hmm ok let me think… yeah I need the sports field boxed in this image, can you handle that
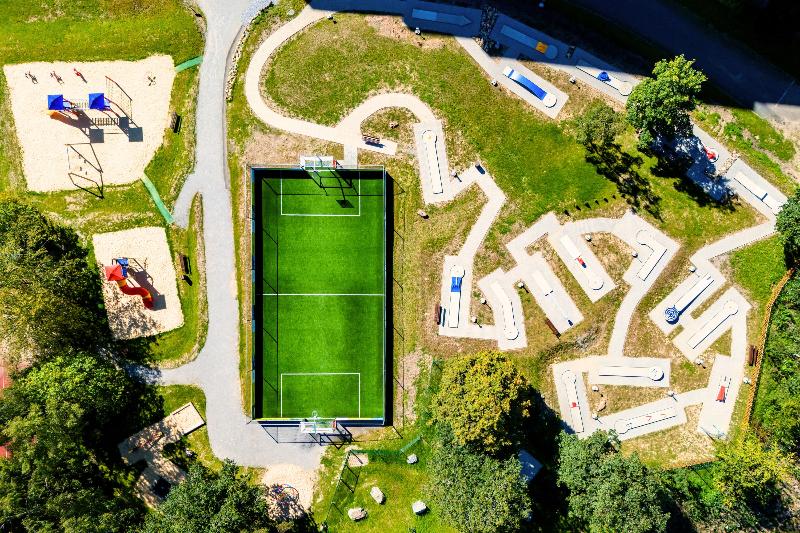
[246,163,387,427]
